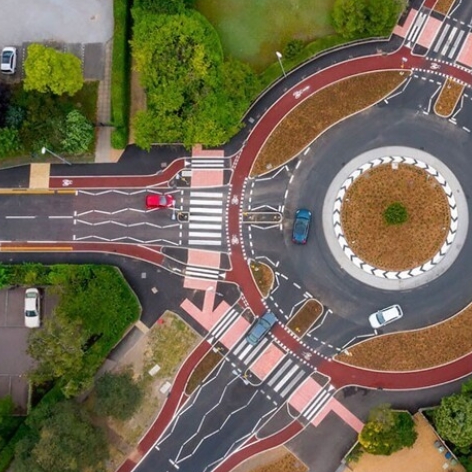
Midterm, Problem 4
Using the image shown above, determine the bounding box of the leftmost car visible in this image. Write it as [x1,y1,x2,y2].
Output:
[0,47,19,76]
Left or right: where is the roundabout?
right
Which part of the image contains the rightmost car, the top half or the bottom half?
bottom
